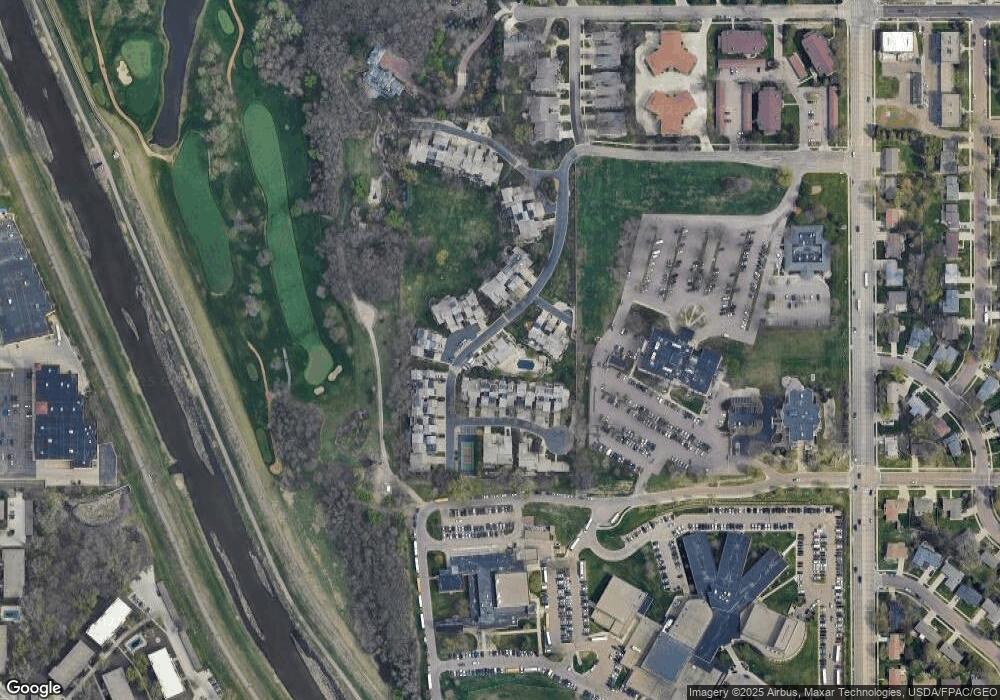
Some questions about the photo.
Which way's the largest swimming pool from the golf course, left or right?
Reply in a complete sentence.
Relative to the golf course, the largest swimming pool lies to the right.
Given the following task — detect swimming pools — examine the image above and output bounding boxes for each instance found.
[497,350,551,377]
[1,606,21,621]
[125,635,146,653]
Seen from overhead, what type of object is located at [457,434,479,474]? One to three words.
tennis court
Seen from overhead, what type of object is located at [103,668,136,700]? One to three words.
building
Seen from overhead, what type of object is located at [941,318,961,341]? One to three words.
house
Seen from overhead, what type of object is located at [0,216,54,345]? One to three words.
building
